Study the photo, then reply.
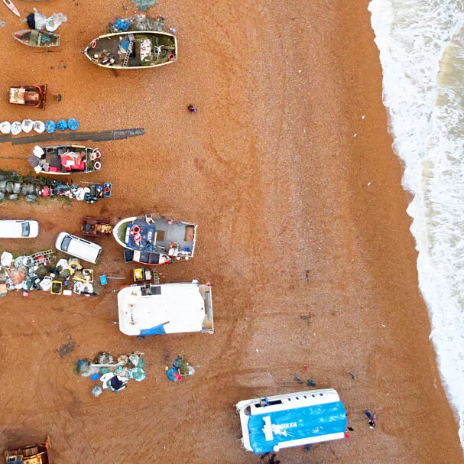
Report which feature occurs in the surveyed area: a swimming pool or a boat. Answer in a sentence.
Visible in the photo is a boat.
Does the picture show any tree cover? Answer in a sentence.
No, there is no tree cover in the image.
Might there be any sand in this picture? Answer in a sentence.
Yes, some sand is visible.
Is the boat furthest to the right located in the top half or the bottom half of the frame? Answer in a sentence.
Seen from above, the boat furthest to the right lies in the bottom half of the view.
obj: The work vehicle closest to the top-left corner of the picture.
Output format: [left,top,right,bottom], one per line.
[8,83,52,110]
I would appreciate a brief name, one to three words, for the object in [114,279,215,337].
boat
